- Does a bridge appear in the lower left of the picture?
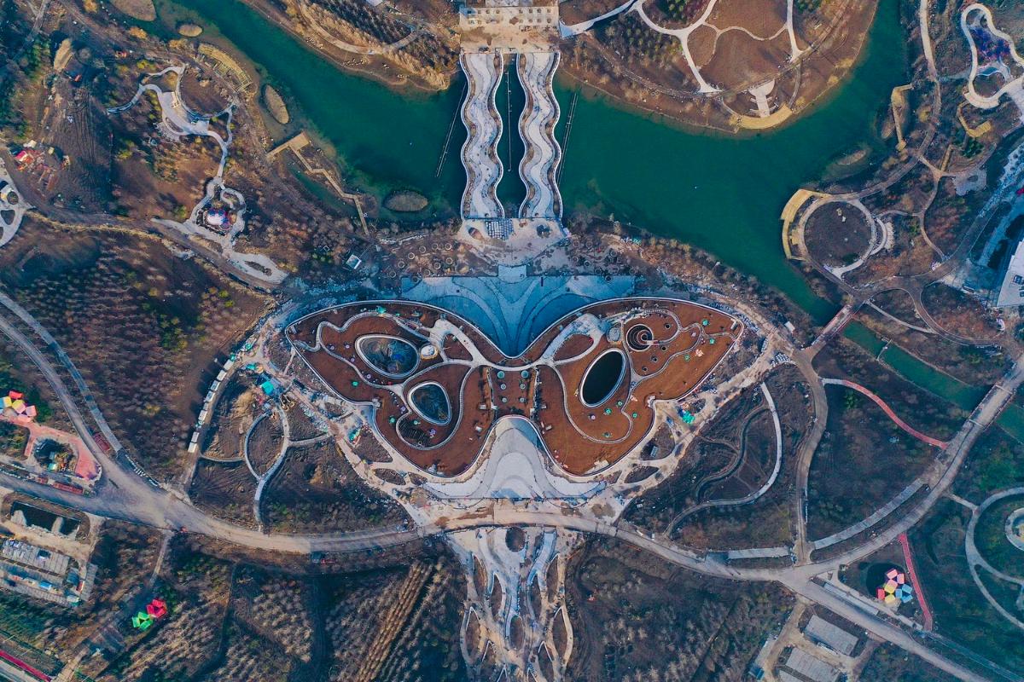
No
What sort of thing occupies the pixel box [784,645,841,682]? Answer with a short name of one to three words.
shed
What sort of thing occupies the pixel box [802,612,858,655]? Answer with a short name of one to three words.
shed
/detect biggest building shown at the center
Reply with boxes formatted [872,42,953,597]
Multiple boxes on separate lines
[286,298,743,476]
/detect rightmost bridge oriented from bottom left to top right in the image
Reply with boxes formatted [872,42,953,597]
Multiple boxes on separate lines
[960,376,1008,428]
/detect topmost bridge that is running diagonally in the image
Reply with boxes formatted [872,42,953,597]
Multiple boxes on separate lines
[813,297,857,347]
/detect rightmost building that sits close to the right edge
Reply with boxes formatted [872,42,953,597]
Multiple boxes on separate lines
[988,239,1024,307]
